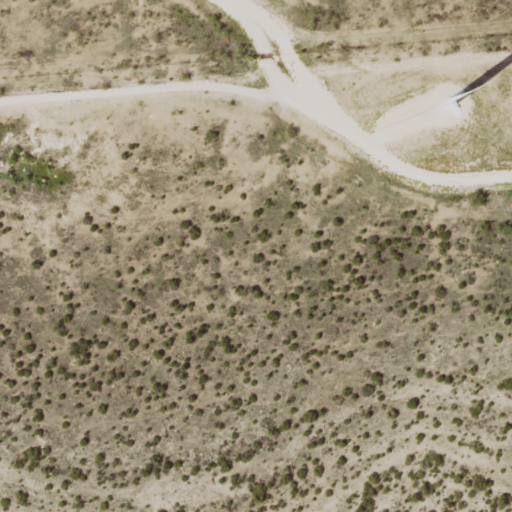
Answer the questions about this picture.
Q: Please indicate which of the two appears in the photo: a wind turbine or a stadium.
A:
wind turbine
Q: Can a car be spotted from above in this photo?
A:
No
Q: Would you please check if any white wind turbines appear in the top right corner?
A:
Yes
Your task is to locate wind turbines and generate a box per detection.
[379,76,500,126]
